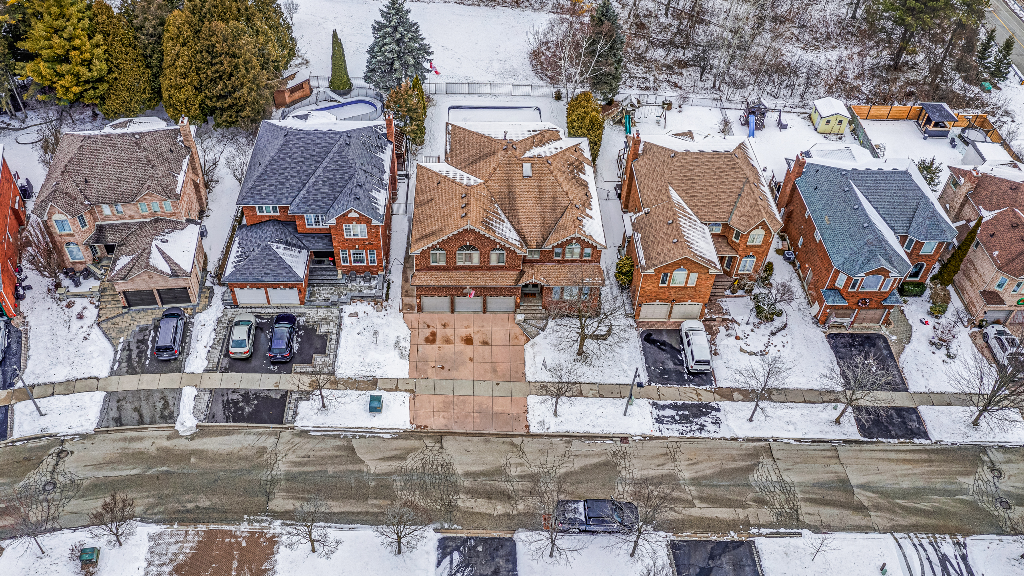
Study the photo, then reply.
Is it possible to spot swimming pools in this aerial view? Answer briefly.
Yes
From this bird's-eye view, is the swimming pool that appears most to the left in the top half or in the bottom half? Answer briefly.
top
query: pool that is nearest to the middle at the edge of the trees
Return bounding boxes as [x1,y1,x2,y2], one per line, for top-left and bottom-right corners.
[444,105,542,138]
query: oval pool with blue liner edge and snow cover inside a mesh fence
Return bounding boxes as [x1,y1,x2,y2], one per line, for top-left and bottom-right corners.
[296,92,387,120]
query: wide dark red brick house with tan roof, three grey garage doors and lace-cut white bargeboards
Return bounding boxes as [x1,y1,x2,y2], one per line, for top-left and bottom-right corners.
[406,121,608,327]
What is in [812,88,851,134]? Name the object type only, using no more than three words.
shed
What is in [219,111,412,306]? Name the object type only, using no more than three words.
house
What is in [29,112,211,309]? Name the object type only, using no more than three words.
house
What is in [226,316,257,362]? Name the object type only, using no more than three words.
car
